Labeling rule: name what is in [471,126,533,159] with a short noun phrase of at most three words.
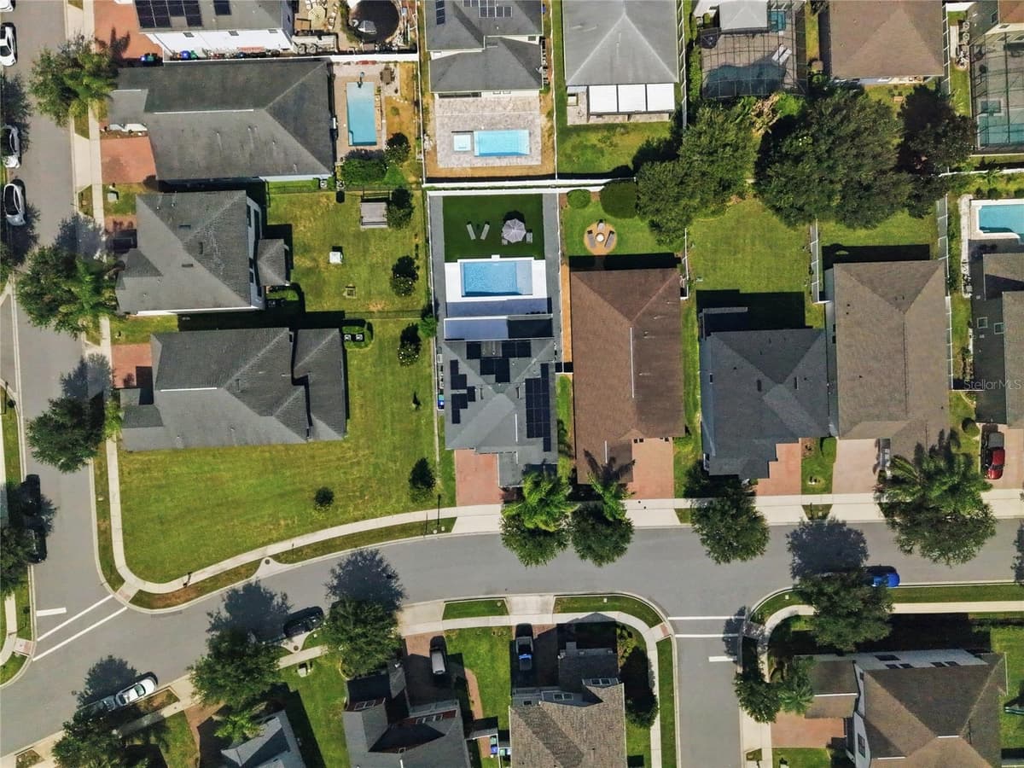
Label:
swimming pool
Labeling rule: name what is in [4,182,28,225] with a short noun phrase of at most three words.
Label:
car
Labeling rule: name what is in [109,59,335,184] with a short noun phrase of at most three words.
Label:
house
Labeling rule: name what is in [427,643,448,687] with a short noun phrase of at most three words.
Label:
vehicle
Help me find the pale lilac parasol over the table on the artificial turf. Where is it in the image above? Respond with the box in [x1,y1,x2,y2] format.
[502,219,526,243]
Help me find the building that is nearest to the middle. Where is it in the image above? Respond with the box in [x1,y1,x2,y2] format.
[442,312,558,487]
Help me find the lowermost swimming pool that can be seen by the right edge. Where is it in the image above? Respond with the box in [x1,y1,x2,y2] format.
[975,199,1024,239]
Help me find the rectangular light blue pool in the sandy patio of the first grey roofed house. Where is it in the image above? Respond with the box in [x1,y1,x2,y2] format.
[343,78,379,149]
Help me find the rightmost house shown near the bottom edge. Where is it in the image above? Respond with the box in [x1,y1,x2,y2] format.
[797,649,1005,768]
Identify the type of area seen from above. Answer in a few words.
residential area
